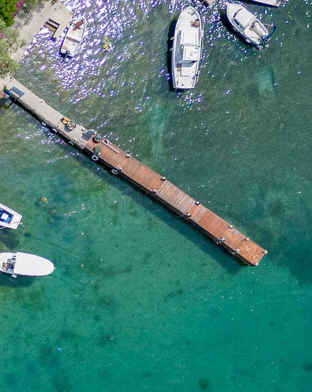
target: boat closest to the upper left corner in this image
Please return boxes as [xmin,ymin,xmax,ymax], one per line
[59,16,87,65]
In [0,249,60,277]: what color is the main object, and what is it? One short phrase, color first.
white boat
